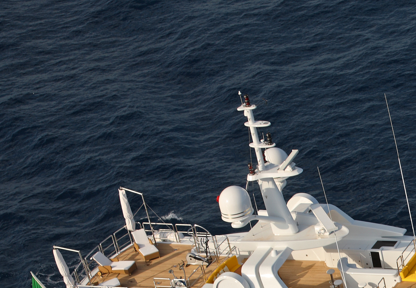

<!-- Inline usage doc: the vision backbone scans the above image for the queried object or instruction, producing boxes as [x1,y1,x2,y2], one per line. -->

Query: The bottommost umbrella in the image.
[53,246,92,288]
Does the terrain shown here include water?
Yes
